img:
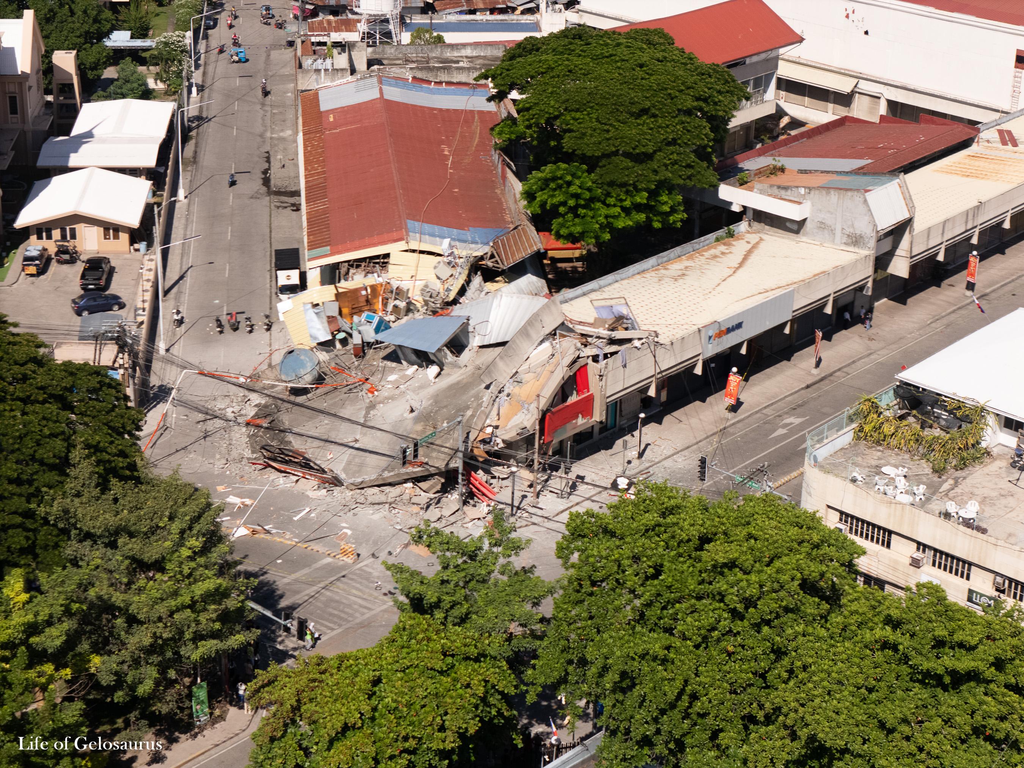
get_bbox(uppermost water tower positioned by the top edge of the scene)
[349,0,410,47]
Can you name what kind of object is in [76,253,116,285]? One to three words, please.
truck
